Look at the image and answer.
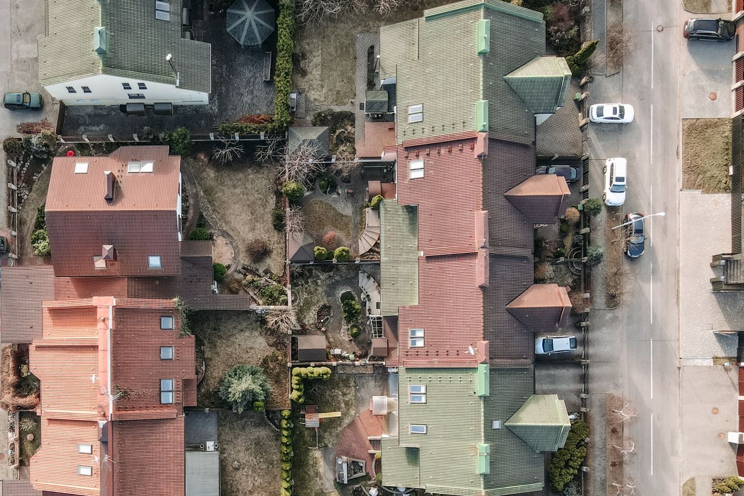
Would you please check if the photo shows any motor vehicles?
Yes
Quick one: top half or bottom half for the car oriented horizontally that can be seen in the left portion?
top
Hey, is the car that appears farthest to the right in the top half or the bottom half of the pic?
top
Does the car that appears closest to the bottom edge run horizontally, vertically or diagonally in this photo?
horizontally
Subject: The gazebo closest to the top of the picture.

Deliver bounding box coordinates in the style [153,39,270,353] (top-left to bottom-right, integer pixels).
[226,0,275,50]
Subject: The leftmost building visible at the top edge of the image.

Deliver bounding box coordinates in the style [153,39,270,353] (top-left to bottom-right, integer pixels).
[39,0,211,106]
